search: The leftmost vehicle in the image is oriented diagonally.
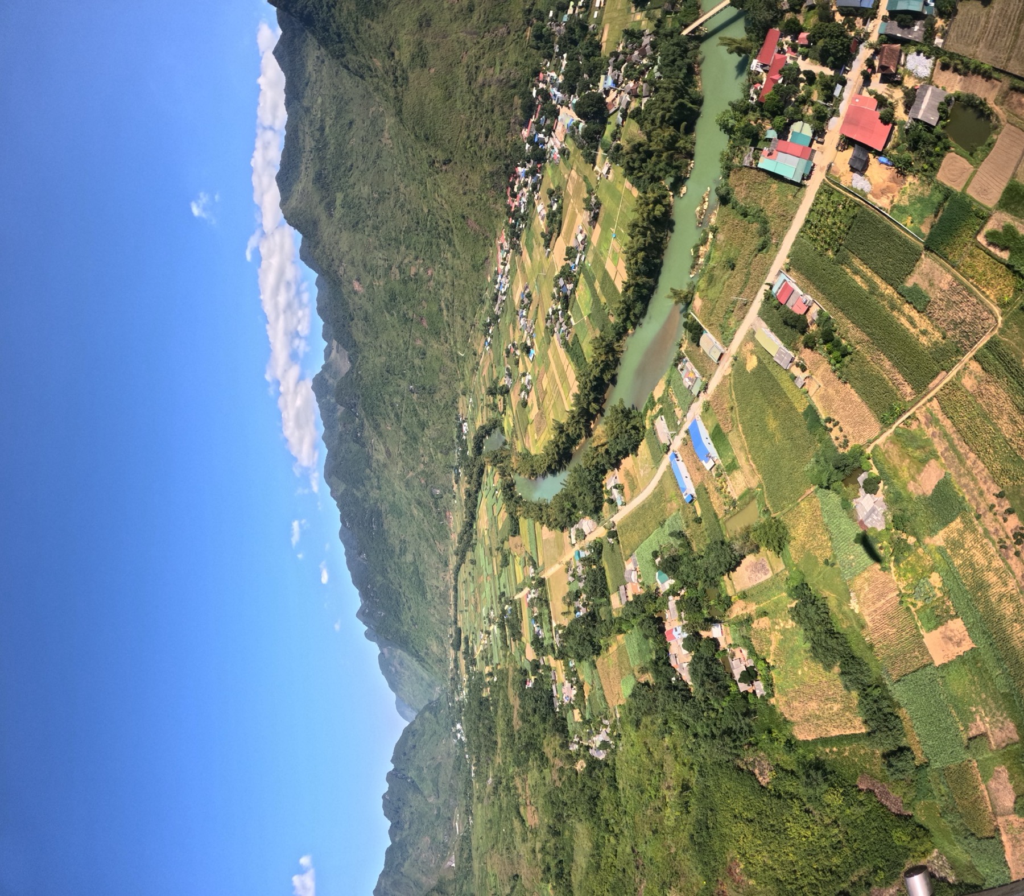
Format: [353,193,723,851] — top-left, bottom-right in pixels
[812,130,826,148]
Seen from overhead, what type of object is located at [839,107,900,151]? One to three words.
building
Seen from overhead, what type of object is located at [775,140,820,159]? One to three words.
house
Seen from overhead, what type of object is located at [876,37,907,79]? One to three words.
house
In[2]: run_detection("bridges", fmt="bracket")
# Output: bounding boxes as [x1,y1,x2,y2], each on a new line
[683,0,735,34]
